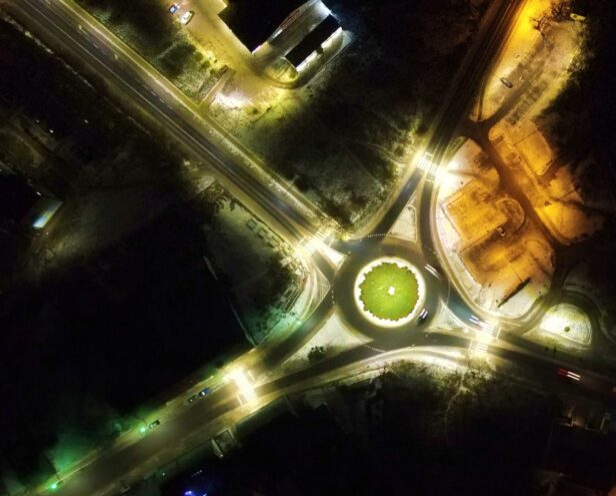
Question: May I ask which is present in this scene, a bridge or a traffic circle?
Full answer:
It is a traffic circle that can be seen here.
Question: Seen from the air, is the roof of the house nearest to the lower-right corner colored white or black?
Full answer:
The roof of the house nearest to the lower-right corner looks black in the image.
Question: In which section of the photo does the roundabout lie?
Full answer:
The roundabout appears toward the center of the photo.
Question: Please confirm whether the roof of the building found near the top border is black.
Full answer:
Yes, black is the color of the roof of the building found near the top border.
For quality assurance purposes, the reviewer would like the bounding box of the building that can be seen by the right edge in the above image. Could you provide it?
[545,422,616,494]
